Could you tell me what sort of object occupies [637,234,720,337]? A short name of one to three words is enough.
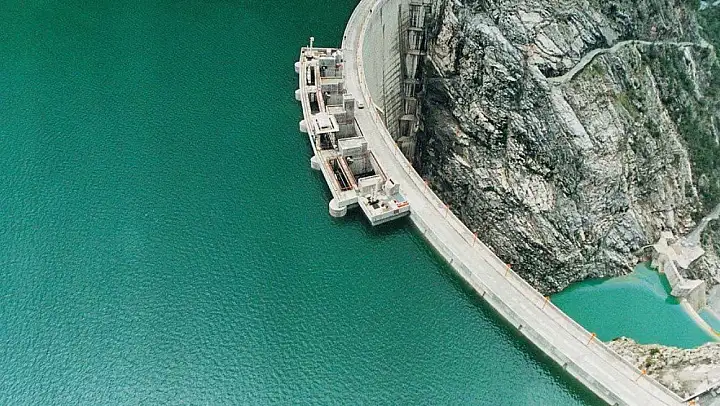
dam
